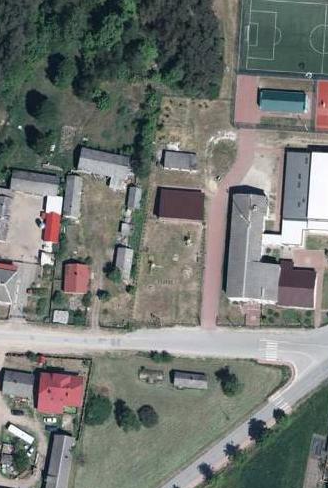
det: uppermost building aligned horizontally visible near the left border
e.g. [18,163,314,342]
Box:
[11,169,60,196]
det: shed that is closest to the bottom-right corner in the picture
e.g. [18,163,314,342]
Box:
[173,371,208,389]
